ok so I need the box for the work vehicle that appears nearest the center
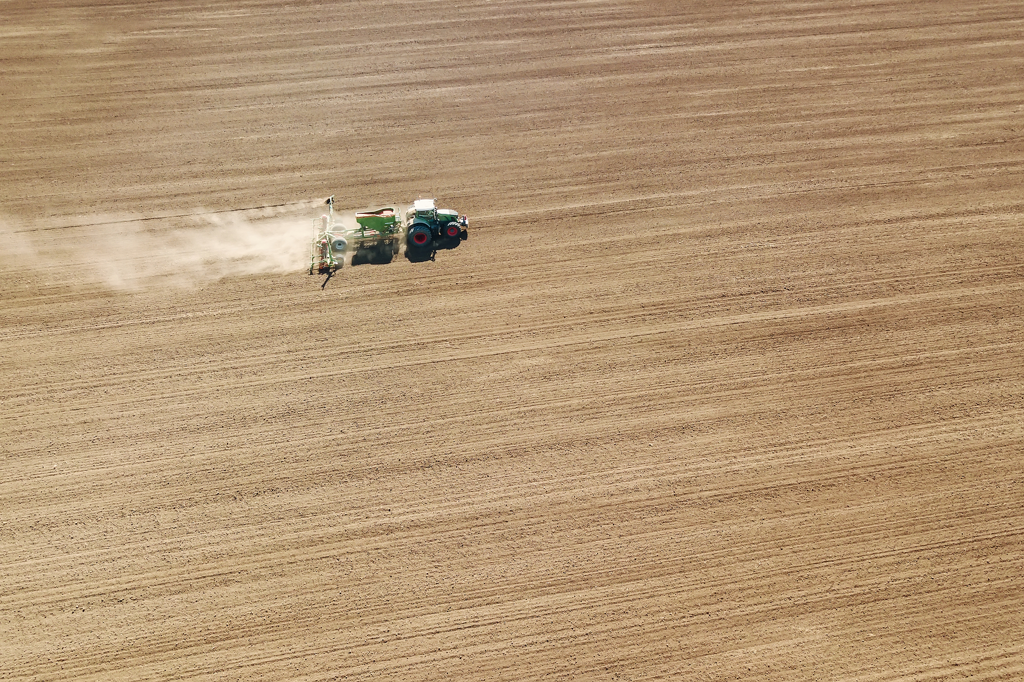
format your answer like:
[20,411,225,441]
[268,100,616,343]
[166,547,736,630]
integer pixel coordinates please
[404,195,469,248]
